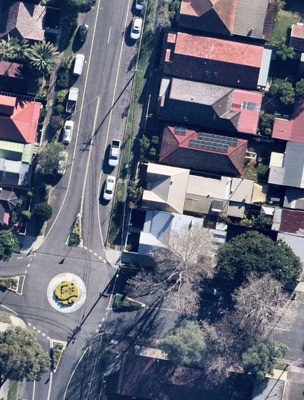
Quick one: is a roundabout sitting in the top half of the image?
No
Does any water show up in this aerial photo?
No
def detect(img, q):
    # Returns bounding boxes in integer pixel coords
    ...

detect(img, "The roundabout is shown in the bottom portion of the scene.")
[47,273,86,312]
